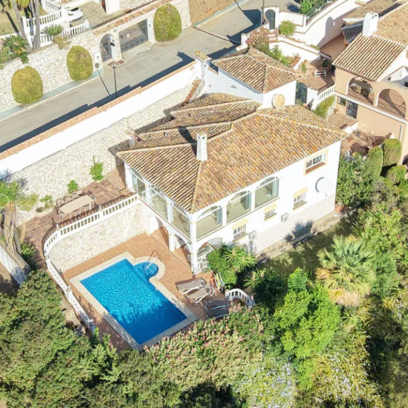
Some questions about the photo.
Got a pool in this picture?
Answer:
Yes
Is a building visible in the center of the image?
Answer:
Yes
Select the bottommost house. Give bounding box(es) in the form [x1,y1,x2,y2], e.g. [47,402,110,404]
[114,90,349,263]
